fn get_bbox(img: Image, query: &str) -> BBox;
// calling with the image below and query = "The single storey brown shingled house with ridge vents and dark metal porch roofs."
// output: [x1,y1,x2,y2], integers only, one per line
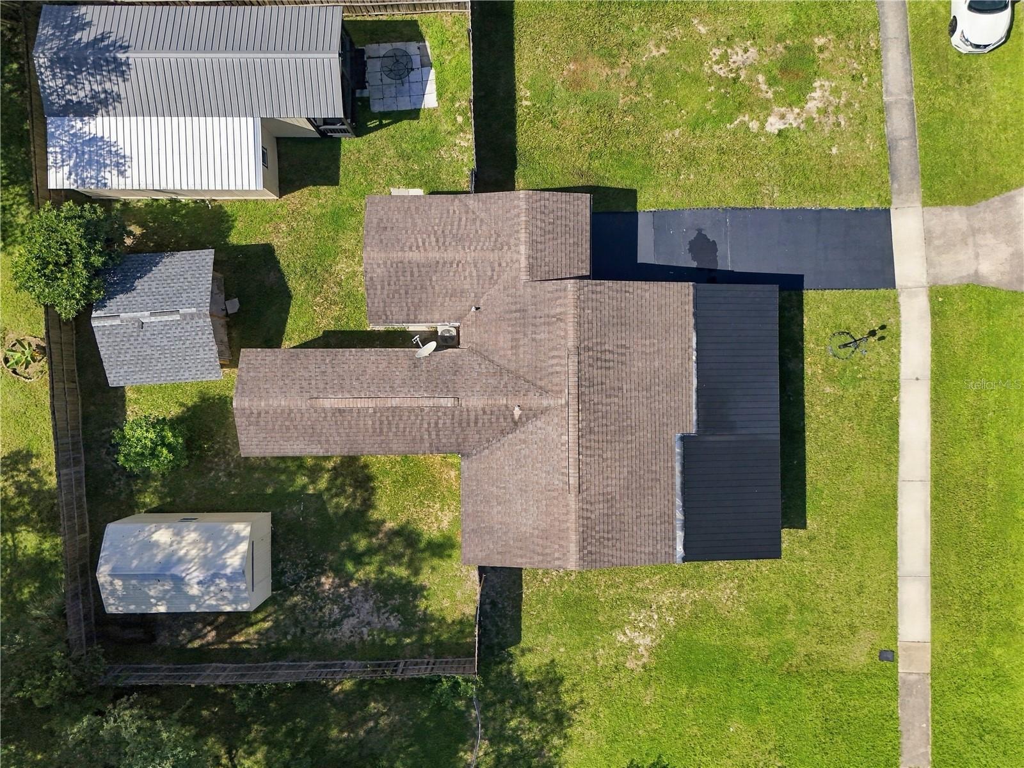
[233,191,781,573]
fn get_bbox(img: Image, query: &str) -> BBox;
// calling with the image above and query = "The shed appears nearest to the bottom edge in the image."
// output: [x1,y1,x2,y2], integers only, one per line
[92,513,271,613]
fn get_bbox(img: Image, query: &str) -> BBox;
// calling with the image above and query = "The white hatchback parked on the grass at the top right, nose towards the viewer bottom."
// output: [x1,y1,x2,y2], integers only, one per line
[942,0,1011,55]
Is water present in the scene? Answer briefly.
No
